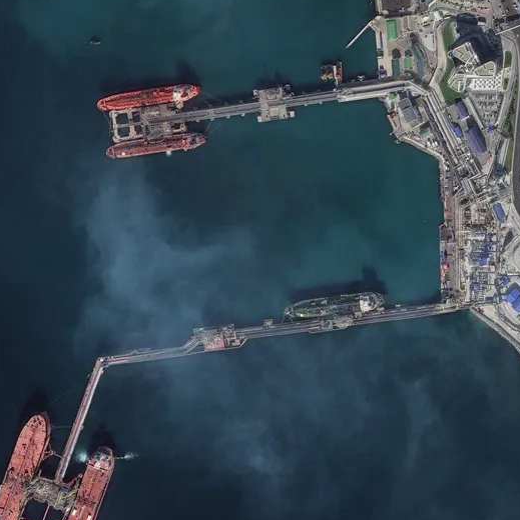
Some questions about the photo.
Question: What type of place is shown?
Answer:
port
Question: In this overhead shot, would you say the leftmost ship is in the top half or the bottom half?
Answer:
bottom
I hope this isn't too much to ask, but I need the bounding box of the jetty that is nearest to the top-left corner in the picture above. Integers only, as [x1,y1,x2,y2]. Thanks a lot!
[156,90,339,124]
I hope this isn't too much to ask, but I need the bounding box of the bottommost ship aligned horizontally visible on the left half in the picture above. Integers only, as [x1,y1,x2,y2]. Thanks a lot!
[106,133,209,158]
